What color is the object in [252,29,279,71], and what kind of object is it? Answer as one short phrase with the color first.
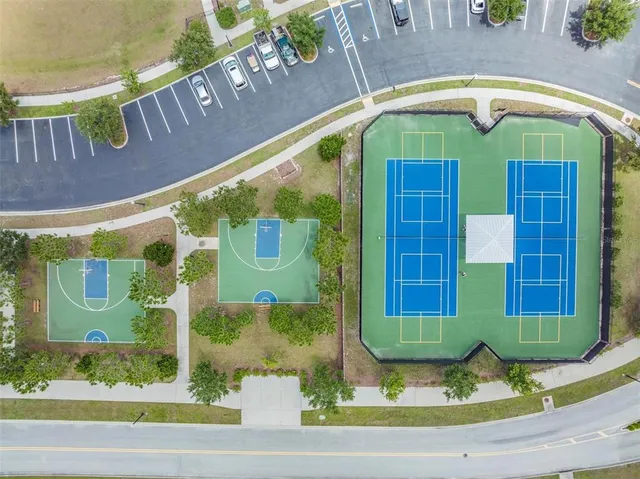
white truck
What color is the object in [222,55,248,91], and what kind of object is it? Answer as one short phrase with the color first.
white car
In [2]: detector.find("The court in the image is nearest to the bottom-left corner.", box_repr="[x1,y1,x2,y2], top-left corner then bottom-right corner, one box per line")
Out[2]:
[47,260,146,342]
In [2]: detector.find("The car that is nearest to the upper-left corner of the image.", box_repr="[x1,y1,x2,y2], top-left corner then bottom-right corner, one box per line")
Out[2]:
[190,74,213,106]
